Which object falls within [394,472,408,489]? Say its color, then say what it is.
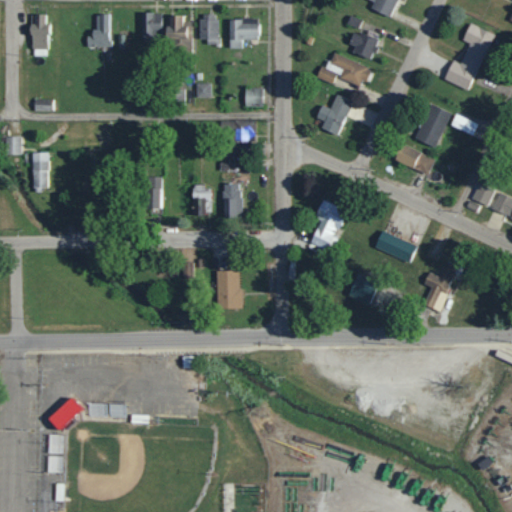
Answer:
green work vehicle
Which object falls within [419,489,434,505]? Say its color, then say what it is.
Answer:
green work vehicle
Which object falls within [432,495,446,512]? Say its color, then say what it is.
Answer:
green vehicle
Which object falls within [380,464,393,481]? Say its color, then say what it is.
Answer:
green vehicle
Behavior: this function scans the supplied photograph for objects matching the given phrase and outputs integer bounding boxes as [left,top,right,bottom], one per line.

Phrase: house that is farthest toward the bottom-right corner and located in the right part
[426,272,454,311]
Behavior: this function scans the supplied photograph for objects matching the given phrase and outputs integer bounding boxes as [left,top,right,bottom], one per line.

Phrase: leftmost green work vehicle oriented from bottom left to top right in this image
[351,456,366,472]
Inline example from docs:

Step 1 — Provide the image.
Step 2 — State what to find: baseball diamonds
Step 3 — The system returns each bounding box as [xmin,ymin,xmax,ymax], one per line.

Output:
[68,424,218,512]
